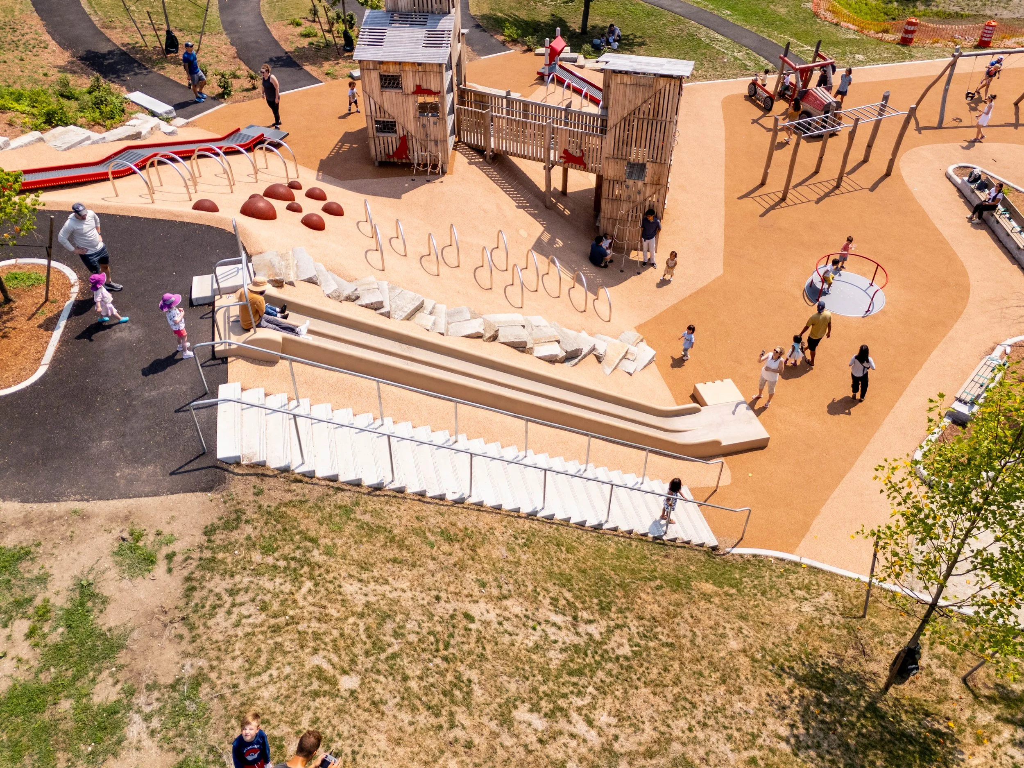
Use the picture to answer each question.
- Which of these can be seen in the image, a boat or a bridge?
bridge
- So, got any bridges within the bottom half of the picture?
No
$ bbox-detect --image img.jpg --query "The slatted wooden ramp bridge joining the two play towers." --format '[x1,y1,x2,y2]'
[453,86,608,212]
